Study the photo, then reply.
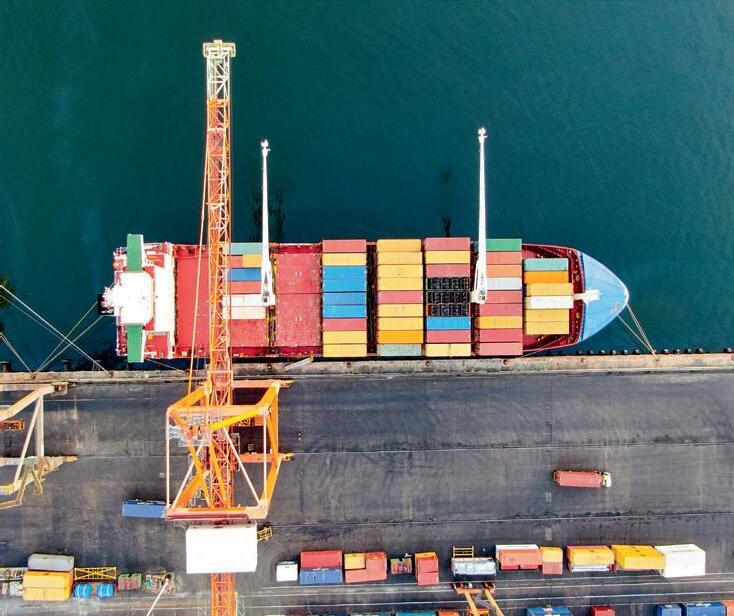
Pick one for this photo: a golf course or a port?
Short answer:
port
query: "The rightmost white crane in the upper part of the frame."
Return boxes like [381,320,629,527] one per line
[463,123,487,301]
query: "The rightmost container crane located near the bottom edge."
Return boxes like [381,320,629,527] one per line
[454,580,510,616]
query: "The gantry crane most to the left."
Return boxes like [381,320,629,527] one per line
[0,382,80,508]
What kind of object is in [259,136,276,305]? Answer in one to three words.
crane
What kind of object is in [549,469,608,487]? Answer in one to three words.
vehicle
